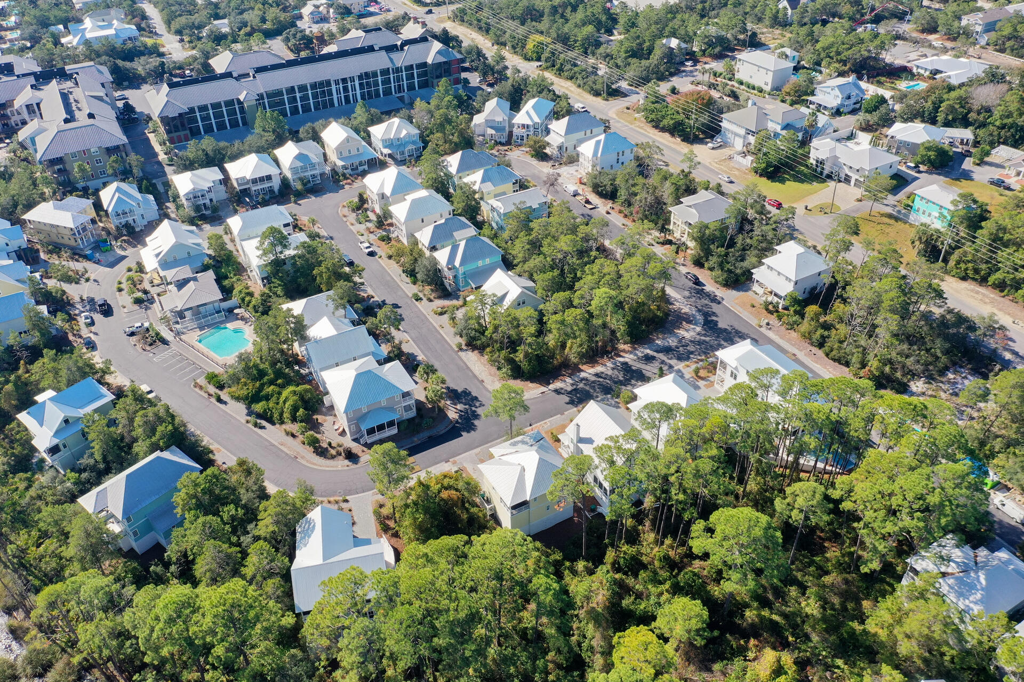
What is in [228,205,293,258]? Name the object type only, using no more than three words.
house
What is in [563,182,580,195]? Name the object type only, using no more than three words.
vehicle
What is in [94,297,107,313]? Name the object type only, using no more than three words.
vehicle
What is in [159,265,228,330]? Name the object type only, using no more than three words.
building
